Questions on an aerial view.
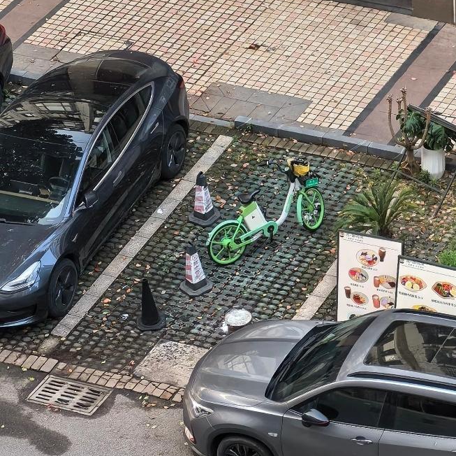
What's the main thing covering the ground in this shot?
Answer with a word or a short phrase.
paved ground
